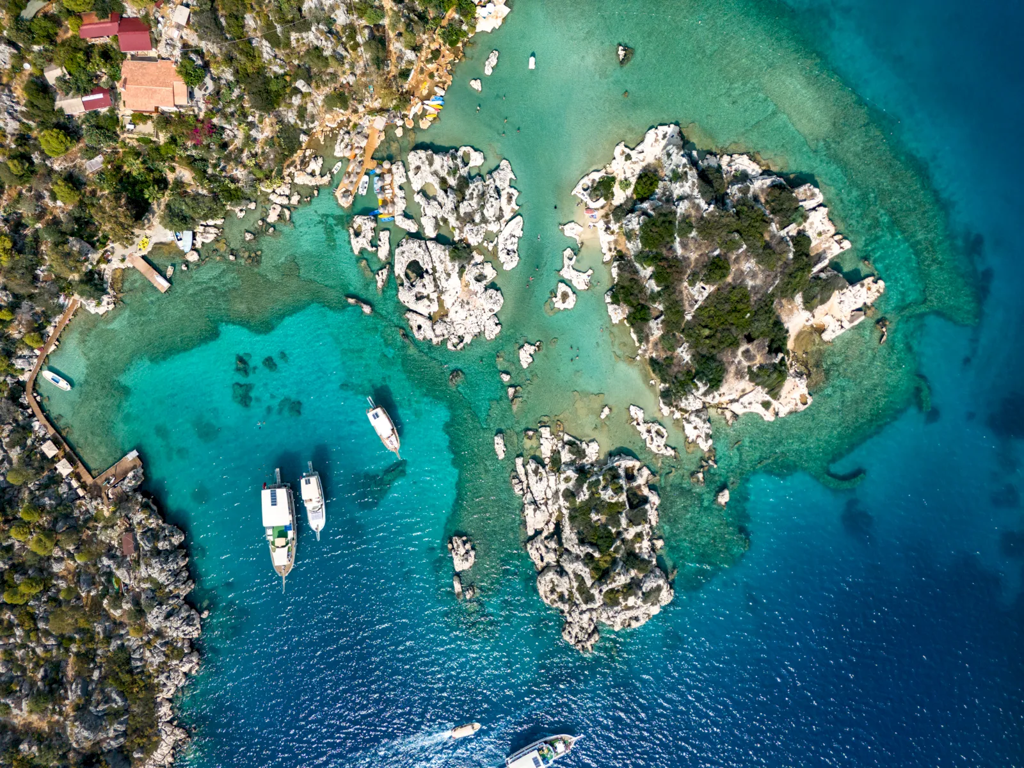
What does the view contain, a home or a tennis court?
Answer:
home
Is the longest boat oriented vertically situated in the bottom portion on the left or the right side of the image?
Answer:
left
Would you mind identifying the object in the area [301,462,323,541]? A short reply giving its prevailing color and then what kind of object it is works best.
white boat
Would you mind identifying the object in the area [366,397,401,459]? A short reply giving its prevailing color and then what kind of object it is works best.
white boat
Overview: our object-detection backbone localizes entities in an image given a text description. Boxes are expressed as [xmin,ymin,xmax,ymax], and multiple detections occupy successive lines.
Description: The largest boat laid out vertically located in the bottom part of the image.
[261,469,296,593]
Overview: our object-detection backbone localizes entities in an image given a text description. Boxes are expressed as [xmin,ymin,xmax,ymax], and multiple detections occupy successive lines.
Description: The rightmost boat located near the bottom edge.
[506,734,584,768]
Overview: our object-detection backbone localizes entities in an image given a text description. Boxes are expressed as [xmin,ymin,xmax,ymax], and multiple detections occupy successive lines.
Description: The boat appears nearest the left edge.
[40,371,72,393]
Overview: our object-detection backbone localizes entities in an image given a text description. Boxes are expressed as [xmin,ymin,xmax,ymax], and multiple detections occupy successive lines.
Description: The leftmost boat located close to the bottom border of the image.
[450,722,482,740]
